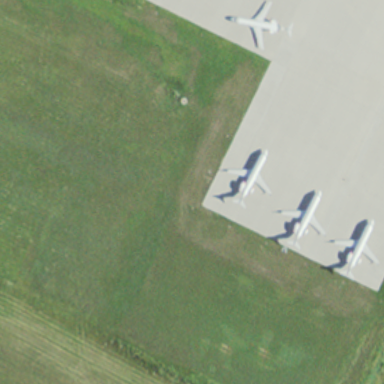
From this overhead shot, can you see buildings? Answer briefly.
No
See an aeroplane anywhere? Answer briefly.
Yes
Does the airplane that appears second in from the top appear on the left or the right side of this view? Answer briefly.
right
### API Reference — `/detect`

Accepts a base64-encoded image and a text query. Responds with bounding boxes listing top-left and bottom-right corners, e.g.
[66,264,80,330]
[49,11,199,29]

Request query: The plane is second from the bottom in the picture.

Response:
[282,191,326,248]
